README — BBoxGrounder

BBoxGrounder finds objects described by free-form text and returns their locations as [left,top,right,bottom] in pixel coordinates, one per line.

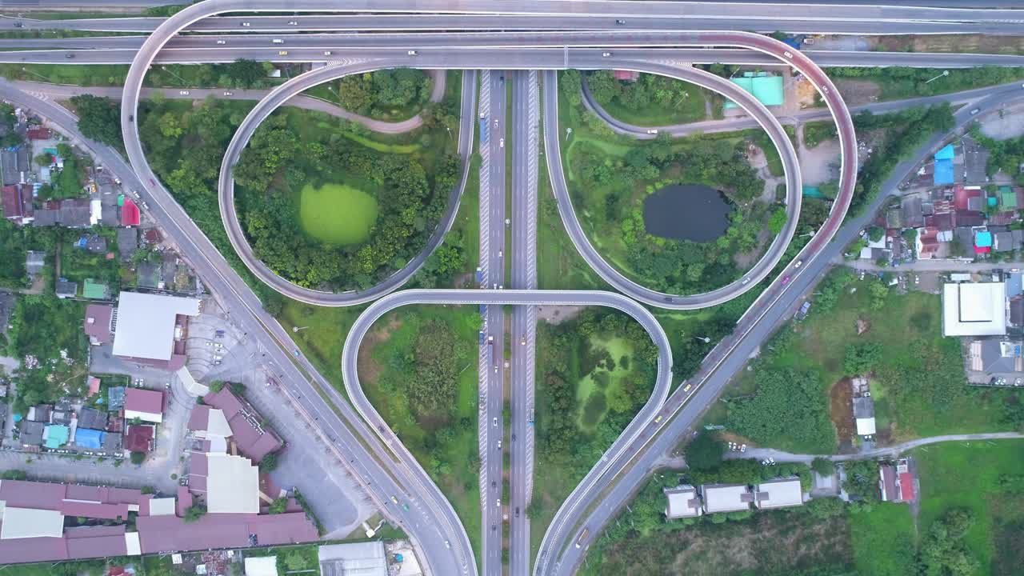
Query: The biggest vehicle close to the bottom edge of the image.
[575,530,590,549]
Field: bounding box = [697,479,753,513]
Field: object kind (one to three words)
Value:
building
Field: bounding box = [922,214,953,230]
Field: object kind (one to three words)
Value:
house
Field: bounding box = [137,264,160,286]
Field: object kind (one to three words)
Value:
house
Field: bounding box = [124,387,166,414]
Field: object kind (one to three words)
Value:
building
